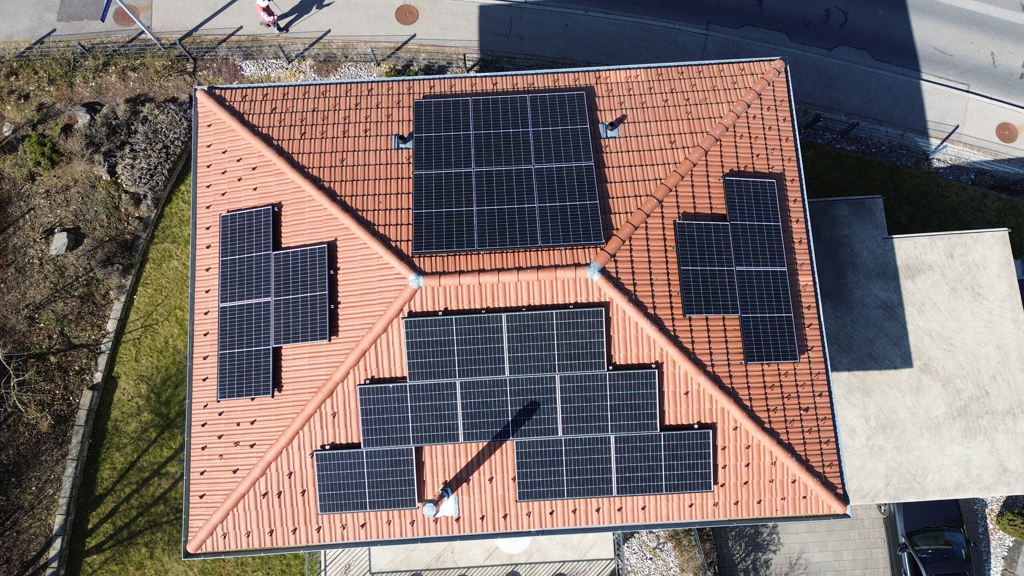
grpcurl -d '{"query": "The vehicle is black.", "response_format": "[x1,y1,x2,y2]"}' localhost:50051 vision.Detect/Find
[872,498,982,576]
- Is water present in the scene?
No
